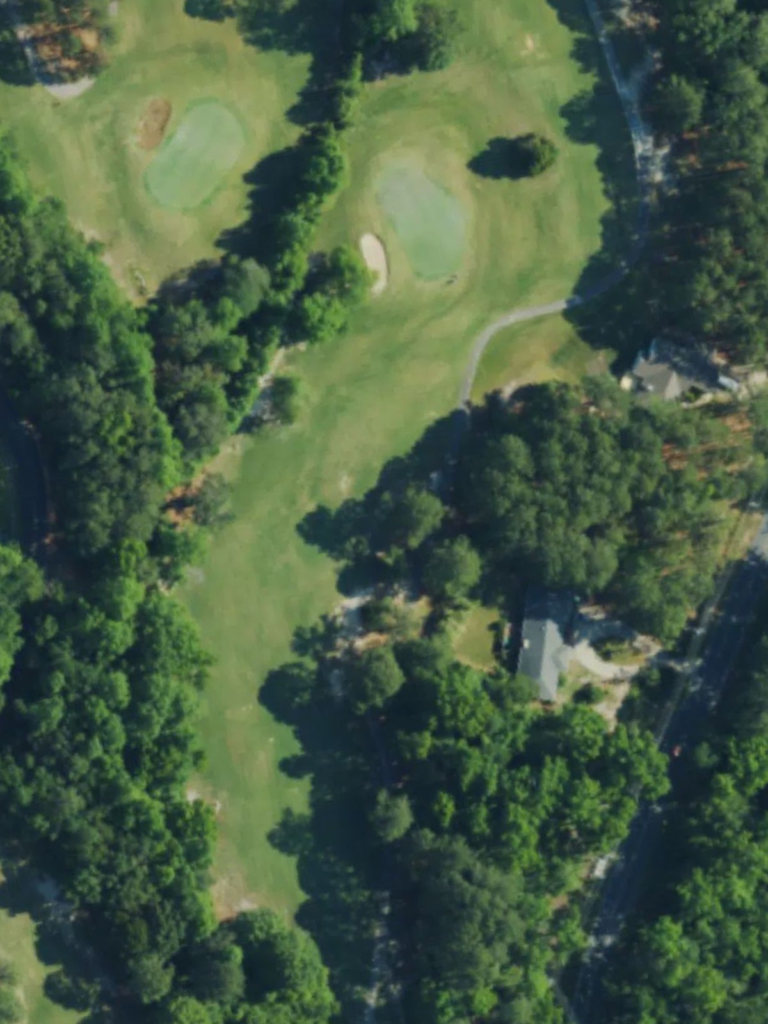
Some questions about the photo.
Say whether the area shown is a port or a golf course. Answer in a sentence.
This image shows a golf course.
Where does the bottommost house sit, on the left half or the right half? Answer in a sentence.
It is on the right.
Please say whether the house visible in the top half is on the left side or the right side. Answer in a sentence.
The house visible in the top half sits on the right side.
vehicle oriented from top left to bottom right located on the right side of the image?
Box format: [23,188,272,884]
[718,374,738,391]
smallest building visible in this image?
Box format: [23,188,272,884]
[634,340,720,401]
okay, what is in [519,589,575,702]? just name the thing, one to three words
house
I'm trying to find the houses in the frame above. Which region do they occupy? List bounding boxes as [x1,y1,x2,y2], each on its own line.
[634,340,720,401]
[519,589,575,702]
